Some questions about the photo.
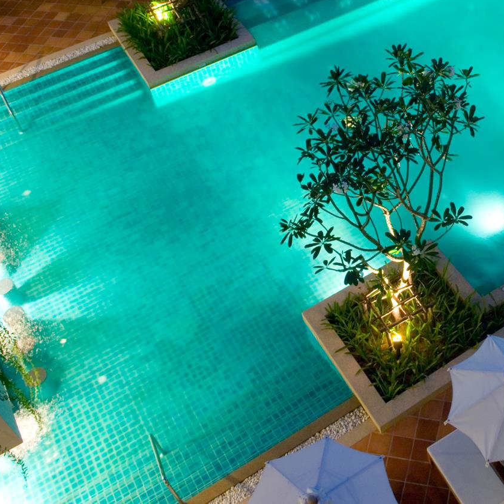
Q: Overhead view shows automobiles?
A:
No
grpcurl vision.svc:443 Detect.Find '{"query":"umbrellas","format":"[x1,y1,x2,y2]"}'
[441,336,504,475]
[250,433,399,504]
